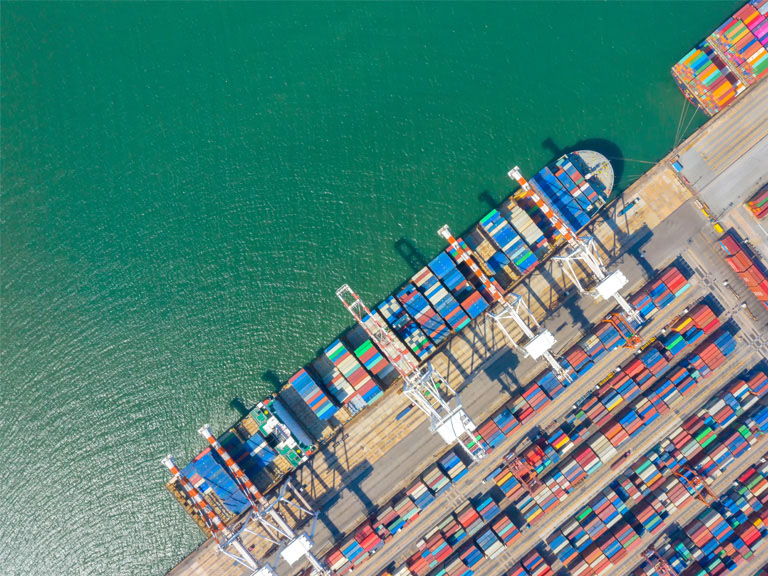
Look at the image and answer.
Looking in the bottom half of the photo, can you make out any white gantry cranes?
Yes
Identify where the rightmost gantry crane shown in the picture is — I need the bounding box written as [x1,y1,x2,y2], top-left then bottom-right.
[668,461,714,504]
